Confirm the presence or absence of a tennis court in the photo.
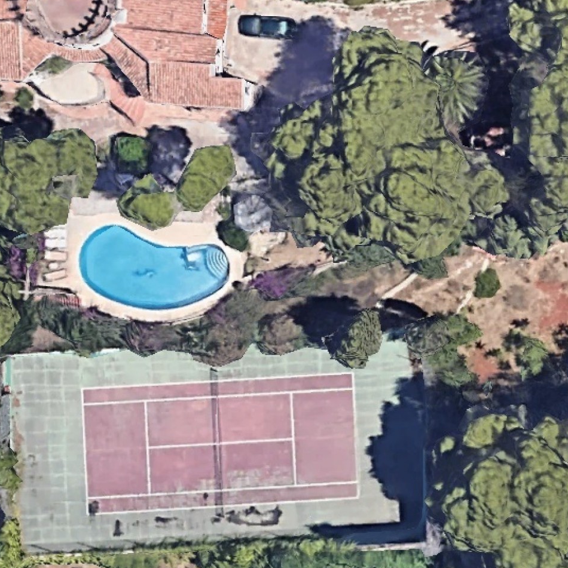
Yes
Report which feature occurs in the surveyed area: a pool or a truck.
pool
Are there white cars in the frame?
No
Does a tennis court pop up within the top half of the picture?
No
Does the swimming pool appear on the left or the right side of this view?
left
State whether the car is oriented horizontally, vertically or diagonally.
horizontally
